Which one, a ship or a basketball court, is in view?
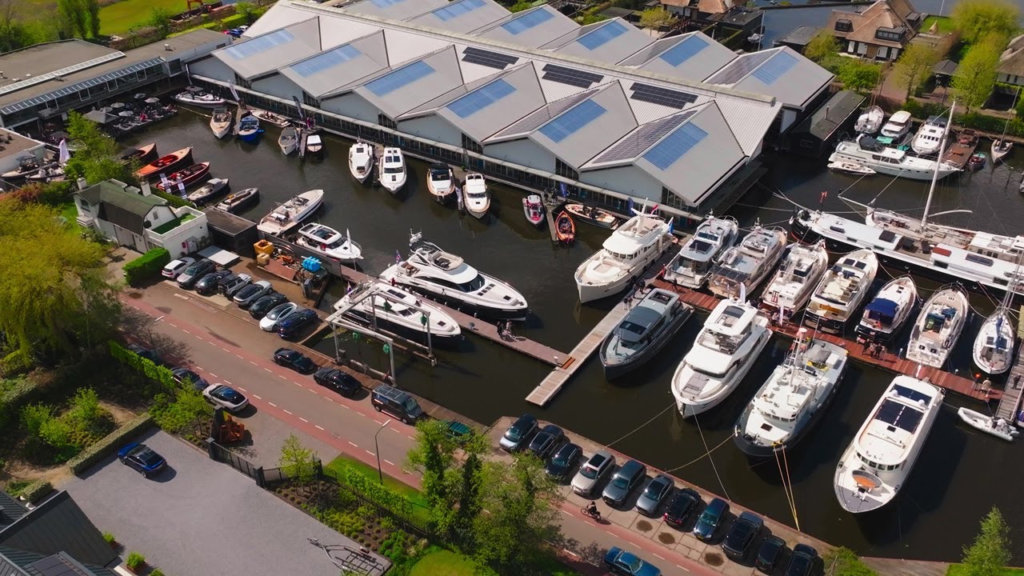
ship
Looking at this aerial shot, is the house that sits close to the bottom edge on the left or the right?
left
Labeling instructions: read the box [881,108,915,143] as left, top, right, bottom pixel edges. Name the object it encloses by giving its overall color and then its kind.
white boat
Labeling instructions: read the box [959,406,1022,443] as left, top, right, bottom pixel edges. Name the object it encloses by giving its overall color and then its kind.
white boat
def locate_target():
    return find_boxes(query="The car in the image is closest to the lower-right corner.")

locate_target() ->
[780,537,821,576]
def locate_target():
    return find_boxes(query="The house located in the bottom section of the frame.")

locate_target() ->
[0,476,125,576]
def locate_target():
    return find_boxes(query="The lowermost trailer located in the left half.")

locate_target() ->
[310,526,394,576]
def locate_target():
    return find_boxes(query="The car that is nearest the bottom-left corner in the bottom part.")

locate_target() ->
[119,444,167,481]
